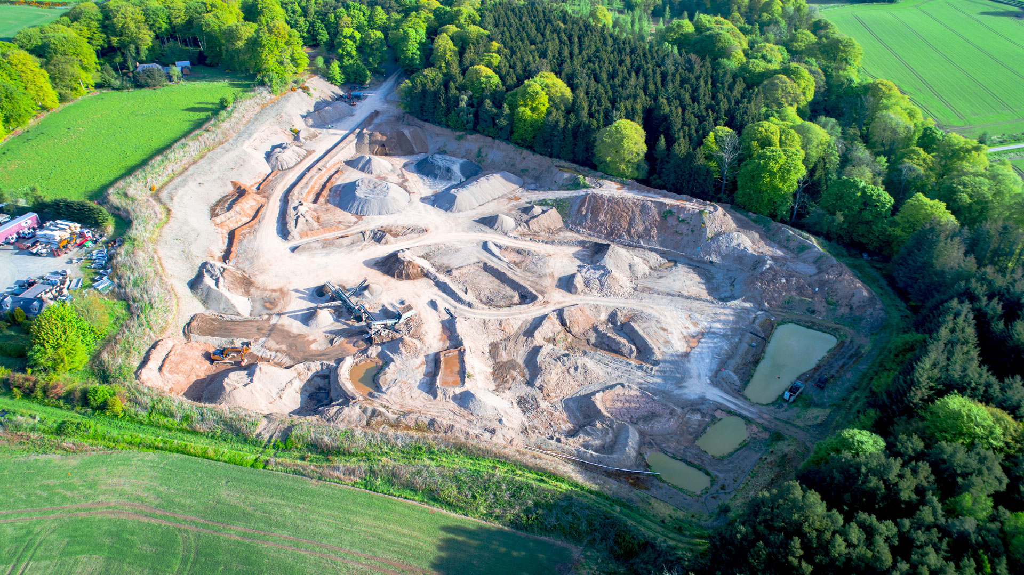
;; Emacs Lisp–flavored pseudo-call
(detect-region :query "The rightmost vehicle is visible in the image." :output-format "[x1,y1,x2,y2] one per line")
[783,376,808,403]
